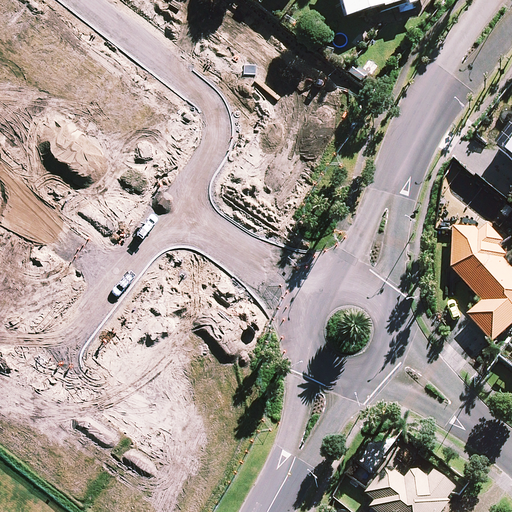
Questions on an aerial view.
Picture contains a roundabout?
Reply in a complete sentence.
Yes, you can see a roundabout in this photo.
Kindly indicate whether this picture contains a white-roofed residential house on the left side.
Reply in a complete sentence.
No, the scene shows no white-roofed residential house on the left side.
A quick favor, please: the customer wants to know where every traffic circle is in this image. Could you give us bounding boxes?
[285,256,416,403]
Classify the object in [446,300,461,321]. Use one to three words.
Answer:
car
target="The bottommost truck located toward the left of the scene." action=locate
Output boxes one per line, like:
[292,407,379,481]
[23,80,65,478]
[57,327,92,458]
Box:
[111,271,138,296]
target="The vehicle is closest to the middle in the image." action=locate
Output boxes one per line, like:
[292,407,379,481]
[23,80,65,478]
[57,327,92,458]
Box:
[132,214,161,244]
